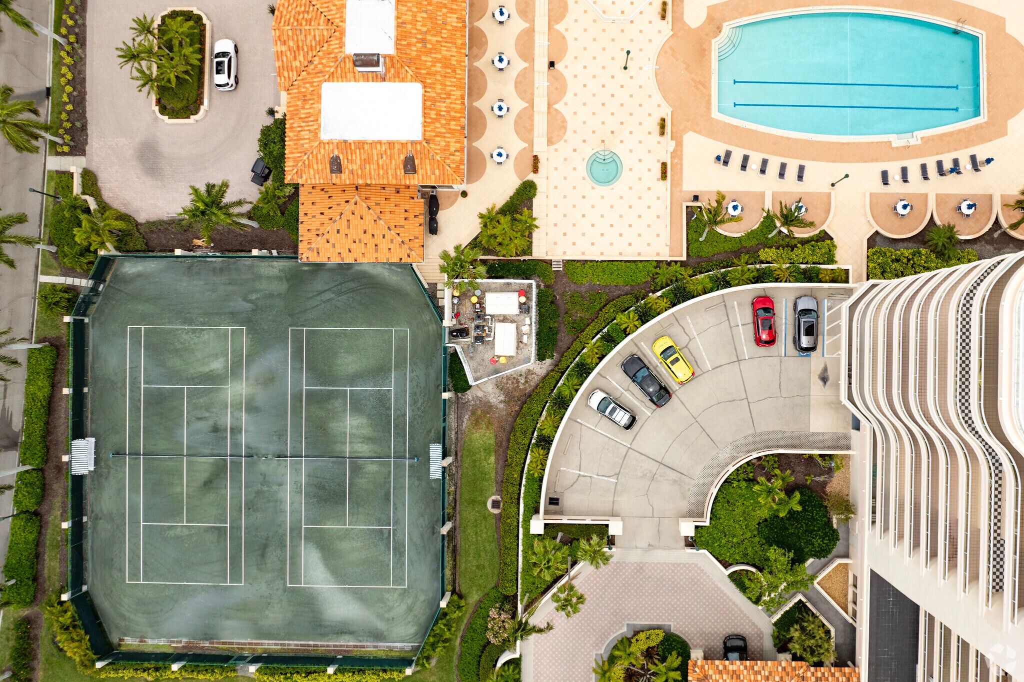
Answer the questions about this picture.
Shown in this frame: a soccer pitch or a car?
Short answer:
car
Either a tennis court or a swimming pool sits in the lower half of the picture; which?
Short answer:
tennis court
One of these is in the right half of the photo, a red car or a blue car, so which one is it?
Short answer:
red car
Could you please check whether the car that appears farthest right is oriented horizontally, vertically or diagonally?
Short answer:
vertically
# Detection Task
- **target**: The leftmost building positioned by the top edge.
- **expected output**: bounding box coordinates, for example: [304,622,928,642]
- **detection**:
[271,0,472,192]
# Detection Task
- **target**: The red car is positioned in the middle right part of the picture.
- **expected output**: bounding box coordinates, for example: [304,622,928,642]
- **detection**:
[750,296,777,346]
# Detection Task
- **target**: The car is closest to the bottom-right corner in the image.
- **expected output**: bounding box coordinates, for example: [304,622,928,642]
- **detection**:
[723,634,749,661]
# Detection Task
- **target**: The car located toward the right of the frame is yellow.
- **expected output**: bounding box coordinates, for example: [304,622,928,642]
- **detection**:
[655,336,695,386]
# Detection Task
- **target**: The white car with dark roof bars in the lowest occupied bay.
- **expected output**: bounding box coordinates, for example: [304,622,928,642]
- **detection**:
[589,389,638,433]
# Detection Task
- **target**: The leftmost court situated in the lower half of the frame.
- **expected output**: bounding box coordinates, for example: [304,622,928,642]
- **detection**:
[87,259,266,651]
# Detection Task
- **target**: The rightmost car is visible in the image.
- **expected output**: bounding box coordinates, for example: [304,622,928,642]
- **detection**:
[792,295,821,353]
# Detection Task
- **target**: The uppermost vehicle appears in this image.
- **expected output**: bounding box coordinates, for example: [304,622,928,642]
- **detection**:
[214,39,242,92]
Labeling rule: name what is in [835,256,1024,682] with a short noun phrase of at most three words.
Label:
building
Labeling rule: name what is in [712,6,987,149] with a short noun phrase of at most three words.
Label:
swimming pool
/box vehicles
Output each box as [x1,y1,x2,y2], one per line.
[589,389,638,433]
[623,352,671,409]
[214,39,242,92]
[247,157,272,186]
[655,336,695,386]
[792,295,821,353]
[750,296,777,346]
[723,634,749,661]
